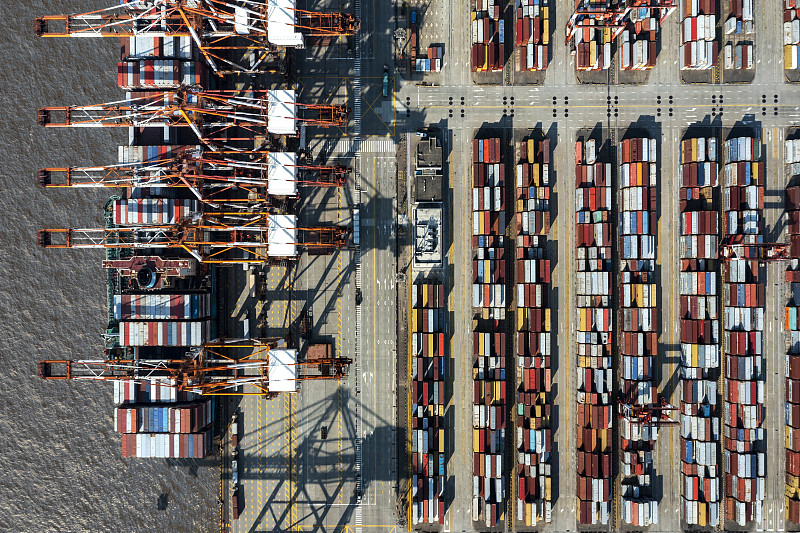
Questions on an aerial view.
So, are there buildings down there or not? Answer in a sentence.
Yes, the picture does show a building.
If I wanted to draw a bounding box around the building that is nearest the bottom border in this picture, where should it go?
[412,202,443,269]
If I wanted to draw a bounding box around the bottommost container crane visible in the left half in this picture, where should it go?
[37,326,352,400]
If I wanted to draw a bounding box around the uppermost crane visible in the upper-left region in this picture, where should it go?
[36,0,351,91]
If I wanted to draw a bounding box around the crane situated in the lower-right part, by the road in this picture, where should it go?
[615,394,679,423]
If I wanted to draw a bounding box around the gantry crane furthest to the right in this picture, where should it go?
[720,238,795,261]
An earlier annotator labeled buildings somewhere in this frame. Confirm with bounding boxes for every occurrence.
[412,202,443,269]
[416,135,442,171]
